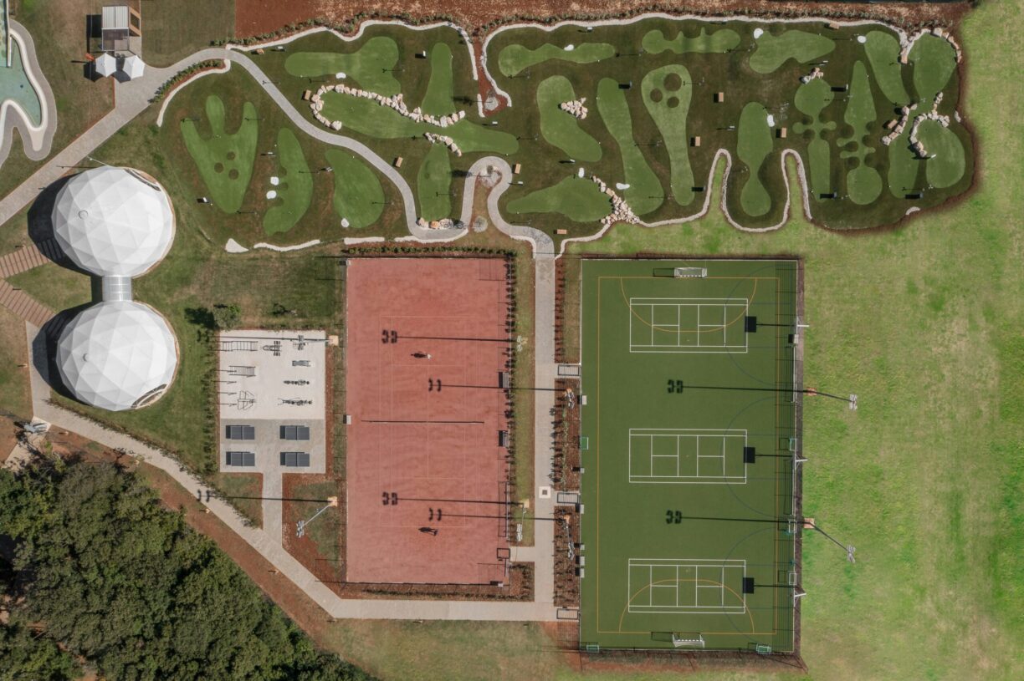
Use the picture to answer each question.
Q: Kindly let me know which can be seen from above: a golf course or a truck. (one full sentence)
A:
Of the two, only a golf course appears.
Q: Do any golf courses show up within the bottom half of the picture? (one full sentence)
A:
No, I can find no golf course within the bottom half of the picture.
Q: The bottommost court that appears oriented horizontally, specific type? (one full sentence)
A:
I'd identify the bottommost court that appears oriented horizontally as a tennis court.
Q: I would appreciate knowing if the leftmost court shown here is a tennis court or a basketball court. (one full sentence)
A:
It turns out the leftmost court is a tennis court.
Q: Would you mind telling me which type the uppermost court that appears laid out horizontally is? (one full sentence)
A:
The uppermost court that appears laid out horizontally appears to be a tennis court.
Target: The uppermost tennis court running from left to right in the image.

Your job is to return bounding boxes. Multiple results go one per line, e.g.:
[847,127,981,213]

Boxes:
[630,298,748,353]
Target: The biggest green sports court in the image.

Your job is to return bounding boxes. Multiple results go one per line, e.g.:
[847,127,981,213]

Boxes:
[580,259,797,652]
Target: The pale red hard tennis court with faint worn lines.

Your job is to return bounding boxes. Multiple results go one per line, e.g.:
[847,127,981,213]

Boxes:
[346,258,507,585]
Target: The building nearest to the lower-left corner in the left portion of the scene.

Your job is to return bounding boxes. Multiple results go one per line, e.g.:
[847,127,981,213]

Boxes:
[53,297,178,415]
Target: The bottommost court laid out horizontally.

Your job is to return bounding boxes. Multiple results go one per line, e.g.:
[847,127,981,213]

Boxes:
[628,559,746,614]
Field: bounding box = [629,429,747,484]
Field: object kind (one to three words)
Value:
tennis court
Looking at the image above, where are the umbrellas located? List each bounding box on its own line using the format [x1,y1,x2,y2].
[123,54,147,80]
[96,53,119,78]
